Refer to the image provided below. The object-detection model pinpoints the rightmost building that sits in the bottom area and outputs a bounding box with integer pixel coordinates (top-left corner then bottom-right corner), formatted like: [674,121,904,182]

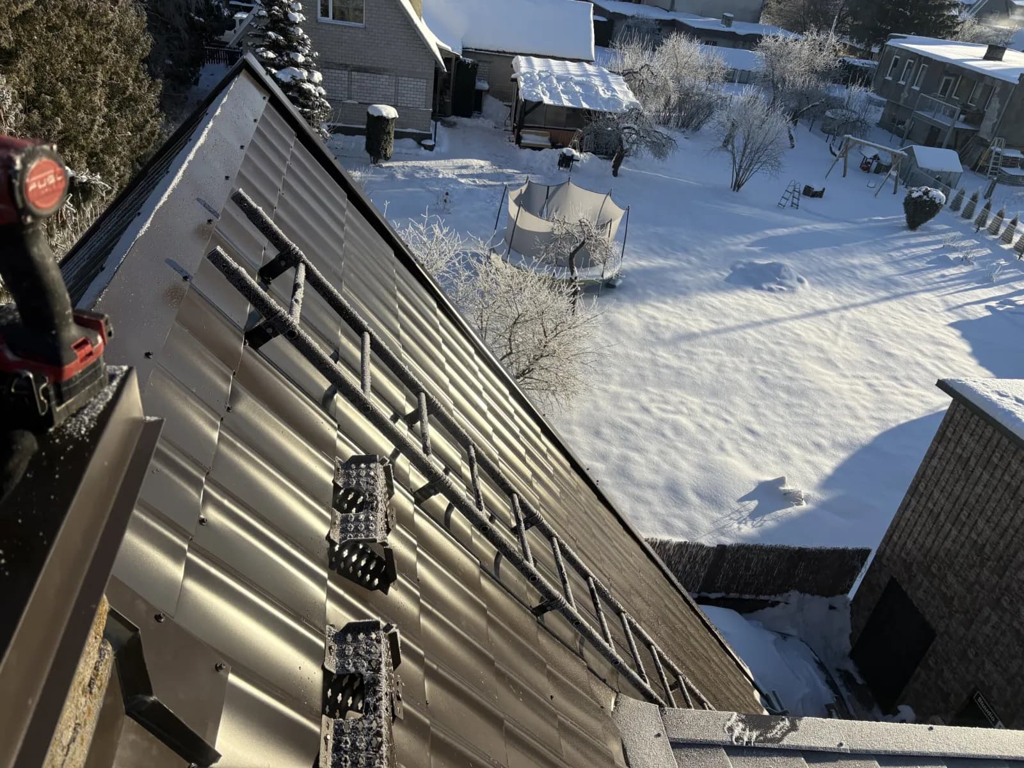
[844,376,1024,726]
